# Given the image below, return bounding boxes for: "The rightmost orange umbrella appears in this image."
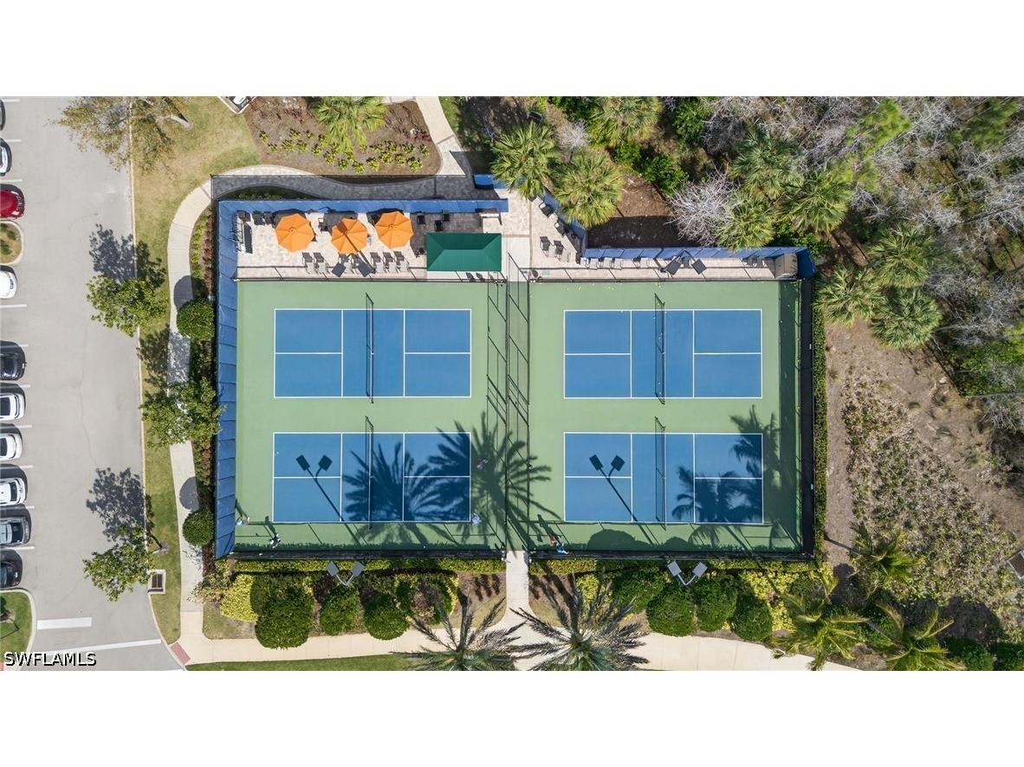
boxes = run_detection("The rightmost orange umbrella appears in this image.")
[374,210,414,250]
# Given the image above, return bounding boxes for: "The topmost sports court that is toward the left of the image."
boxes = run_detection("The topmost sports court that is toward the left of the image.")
[274,309,471,398]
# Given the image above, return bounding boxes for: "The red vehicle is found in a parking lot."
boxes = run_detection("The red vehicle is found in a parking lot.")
[0,186,27,218]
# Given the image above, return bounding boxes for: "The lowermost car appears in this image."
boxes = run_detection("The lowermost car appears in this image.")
[0,552,25,581]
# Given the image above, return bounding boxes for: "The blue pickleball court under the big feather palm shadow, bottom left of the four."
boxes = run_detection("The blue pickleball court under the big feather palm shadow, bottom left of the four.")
[273,432,471,523]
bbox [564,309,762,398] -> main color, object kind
blue sports court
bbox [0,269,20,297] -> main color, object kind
white car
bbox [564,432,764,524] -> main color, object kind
blue sports court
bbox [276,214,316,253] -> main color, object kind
orange umbrella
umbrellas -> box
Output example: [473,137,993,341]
[276,214,316,253]
[331,218,369,256]
[374,210,414,250]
